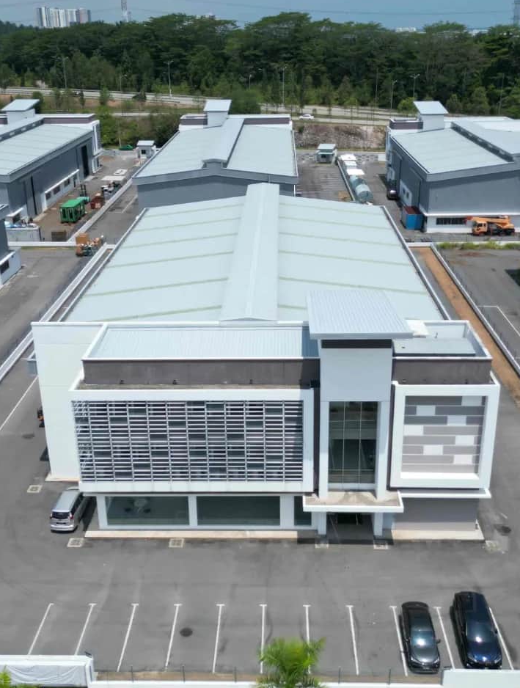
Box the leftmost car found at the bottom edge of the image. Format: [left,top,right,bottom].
[397,598,443,667]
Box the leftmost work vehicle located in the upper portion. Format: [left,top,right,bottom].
[73,230,98,255]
